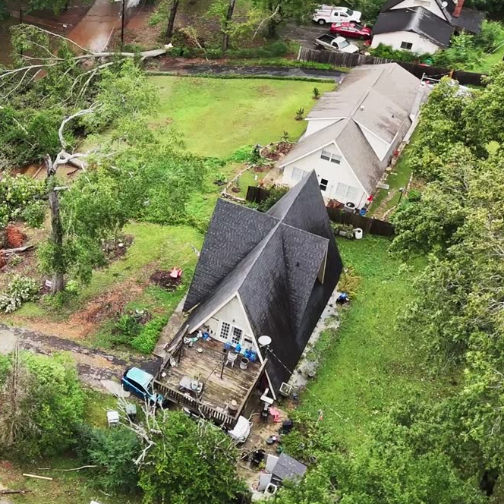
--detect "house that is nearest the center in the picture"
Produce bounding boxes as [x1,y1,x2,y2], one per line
[179,167,345,396]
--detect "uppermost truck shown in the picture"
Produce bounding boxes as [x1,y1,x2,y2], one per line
[312,0,365,26]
